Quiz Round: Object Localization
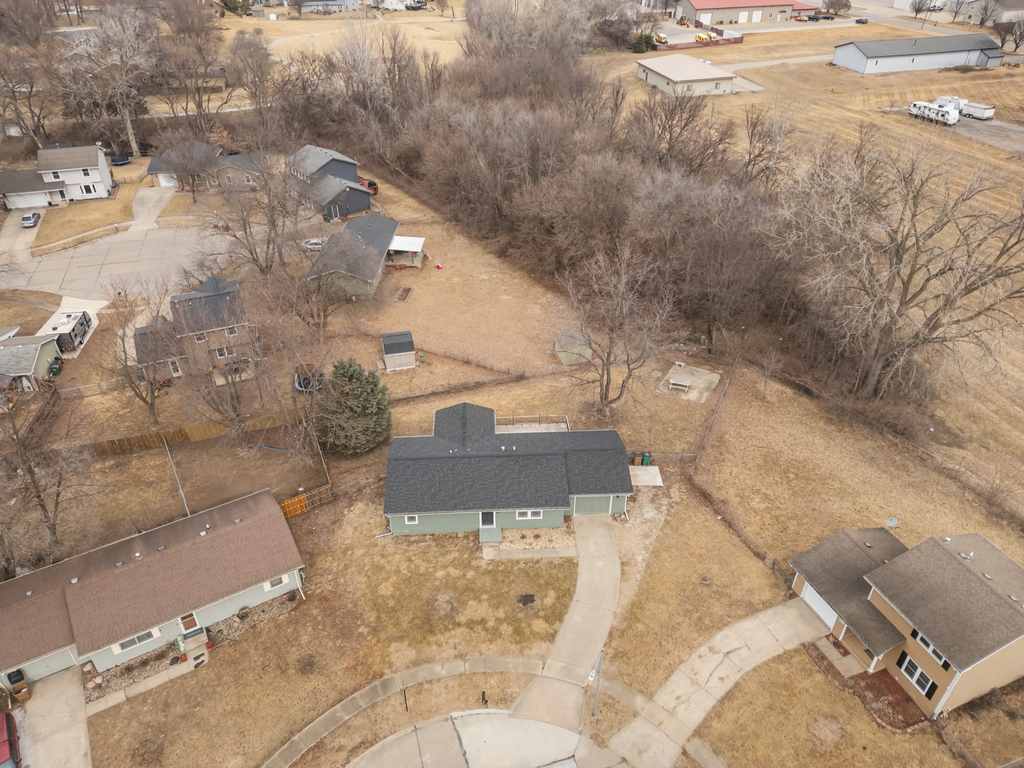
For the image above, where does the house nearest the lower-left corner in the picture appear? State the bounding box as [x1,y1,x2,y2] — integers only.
[0,488,312,710]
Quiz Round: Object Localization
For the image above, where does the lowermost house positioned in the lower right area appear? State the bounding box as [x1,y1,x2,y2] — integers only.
[786,519,1024,719]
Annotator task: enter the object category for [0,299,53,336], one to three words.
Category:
house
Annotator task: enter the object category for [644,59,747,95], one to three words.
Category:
building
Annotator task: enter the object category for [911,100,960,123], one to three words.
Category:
trailer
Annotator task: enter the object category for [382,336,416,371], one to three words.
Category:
shed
